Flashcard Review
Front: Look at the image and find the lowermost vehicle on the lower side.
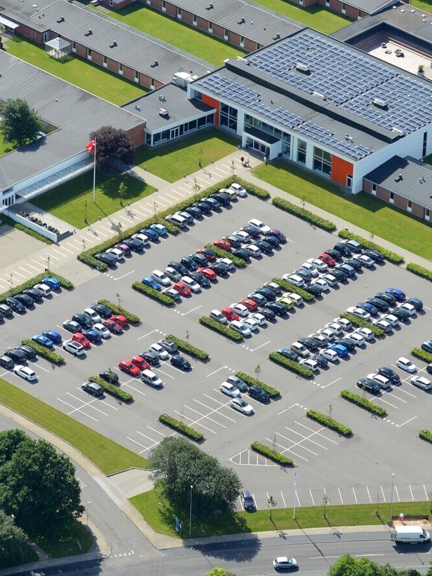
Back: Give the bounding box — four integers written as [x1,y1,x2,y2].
[273,556,298,569]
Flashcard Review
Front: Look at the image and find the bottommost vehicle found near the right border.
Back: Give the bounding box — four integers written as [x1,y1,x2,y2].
[389,526,431,545]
